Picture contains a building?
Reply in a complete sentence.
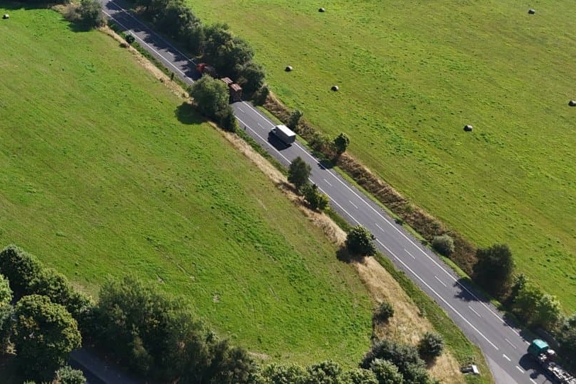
No, the frame has no building in it.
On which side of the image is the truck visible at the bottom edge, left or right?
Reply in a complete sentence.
The truck visible at the bottom edge appears in the right half of the scene.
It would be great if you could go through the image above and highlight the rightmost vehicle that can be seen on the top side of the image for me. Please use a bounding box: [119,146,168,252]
[270,124,294,143]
